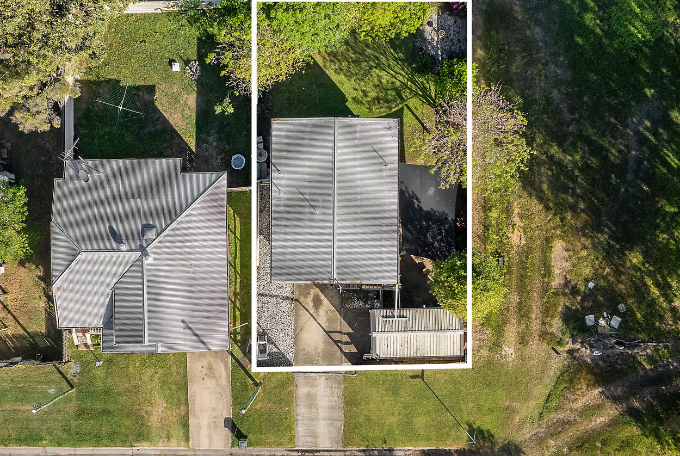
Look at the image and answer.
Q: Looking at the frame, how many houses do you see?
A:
2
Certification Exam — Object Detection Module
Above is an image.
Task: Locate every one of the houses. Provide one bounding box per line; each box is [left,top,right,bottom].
[47,138,231,356]
[268,116,402,293]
